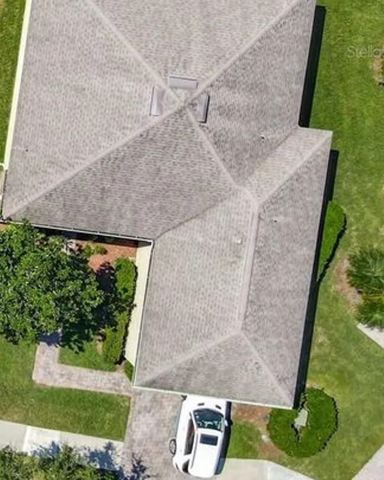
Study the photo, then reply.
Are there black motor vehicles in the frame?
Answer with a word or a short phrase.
No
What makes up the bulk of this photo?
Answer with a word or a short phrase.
buildings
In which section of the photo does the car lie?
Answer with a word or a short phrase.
bottom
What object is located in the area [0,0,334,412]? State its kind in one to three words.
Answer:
house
